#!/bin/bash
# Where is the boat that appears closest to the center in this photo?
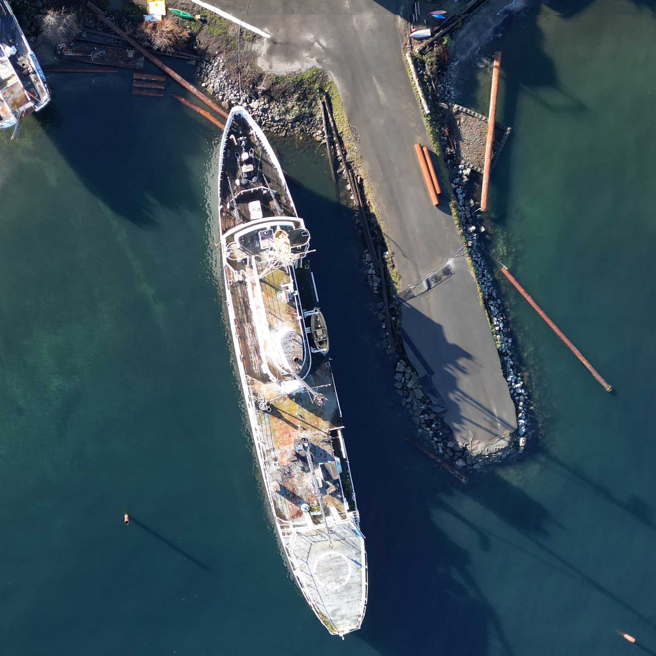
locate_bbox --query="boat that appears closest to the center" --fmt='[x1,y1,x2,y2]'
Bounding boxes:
[311,308,329,355]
